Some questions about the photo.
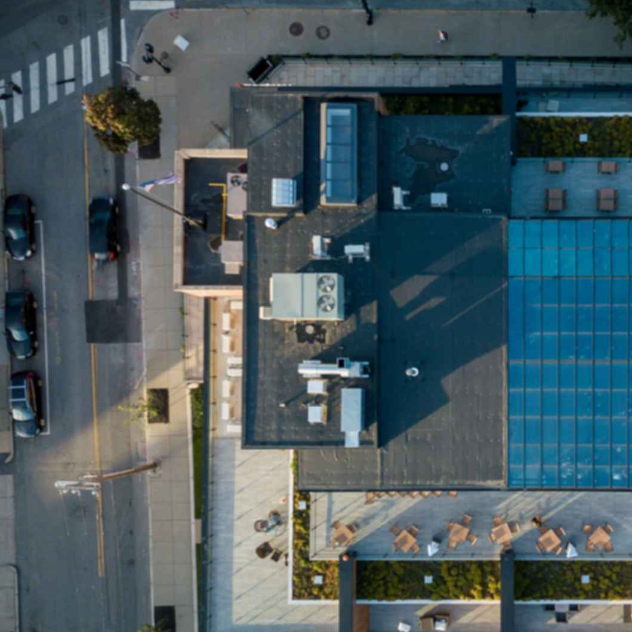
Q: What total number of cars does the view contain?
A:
four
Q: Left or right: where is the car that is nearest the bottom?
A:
left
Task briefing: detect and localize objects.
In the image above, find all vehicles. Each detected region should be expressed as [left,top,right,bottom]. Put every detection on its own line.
[3,293,39,356]
[87,198,121,262]
[3,195,39,261]
[10,372,46,435]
